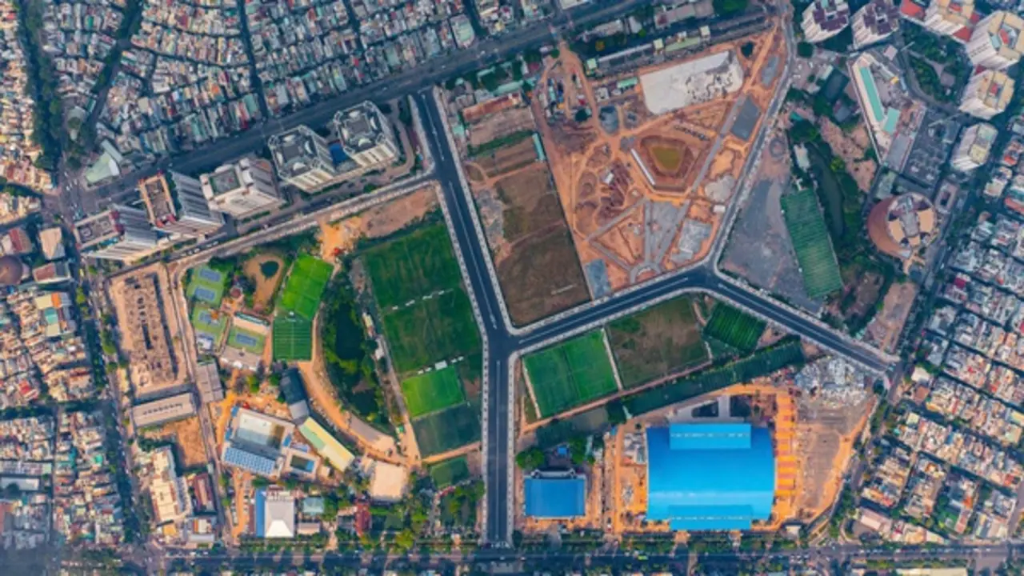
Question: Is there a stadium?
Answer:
Yes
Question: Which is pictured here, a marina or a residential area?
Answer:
residential area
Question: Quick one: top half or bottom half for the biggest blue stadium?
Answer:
bottom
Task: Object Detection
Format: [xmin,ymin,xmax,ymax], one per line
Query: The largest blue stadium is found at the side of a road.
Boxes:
[646,421,777,532]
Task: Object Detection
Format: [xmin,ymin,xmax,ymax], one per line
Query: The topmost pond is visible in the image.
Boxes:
[634,134,702,190]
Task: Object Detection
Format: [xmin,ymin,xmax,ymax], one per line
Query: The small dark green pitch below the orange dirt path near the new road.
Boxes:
[431,455,470,487]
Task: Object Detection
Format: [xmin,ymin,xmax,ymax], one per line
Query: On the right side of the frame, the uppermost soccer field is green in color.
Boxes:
[780,188,844,299]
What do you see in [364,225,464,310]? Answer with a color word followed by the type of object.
green sports field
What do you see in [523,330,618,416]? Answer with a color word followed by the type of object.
green soccer field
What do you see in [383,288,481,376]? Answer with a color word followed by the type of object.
green sports field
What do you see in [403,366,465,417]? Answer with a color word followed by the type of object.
green soccer field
